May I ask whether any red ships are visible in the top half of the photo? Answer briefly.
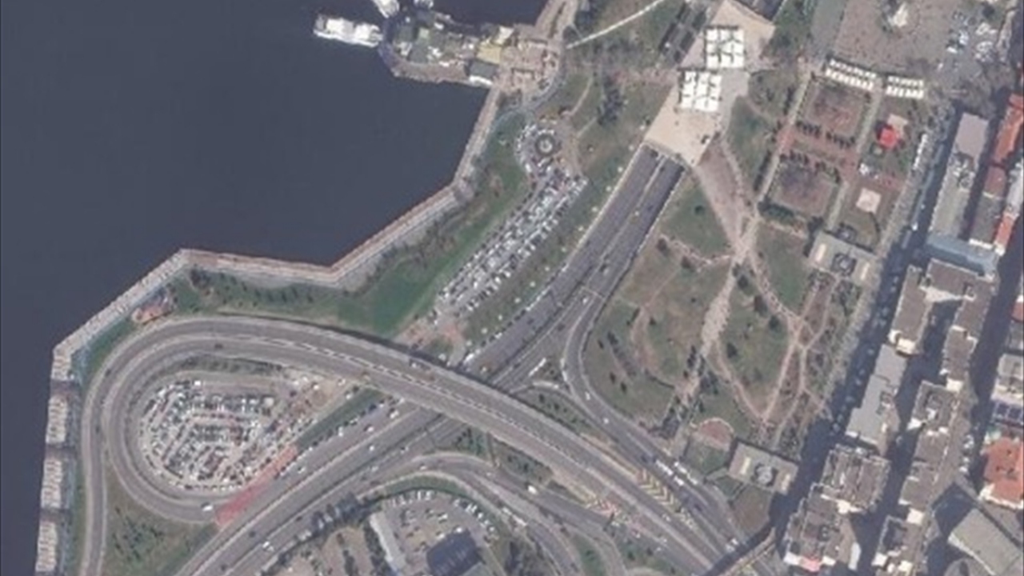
No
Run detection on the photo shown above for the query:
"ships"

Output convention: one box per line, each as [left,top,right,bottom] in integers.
[313,13,383,46]
[375,0,403,18]
[413,0,435,9]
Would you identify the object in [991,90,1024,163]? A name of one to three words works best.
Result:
house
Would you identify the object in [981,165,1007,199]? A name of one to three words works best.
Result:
house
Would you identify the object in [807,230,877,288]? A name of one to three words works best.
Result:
building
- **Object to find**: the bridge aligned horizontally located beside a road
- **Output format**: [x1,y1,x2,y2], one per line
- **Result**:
[80,318,638,576]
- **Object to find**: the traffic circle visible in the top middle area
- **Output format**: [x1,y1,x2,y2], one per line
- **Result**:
[524,124,568,165]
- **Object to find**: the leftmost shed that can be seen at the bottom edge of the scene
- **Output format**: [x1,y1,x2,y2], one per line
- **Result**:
[370,512,409,576]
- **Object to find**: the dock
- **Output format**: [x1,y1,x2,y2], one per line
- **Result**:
[380,9,516,87]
